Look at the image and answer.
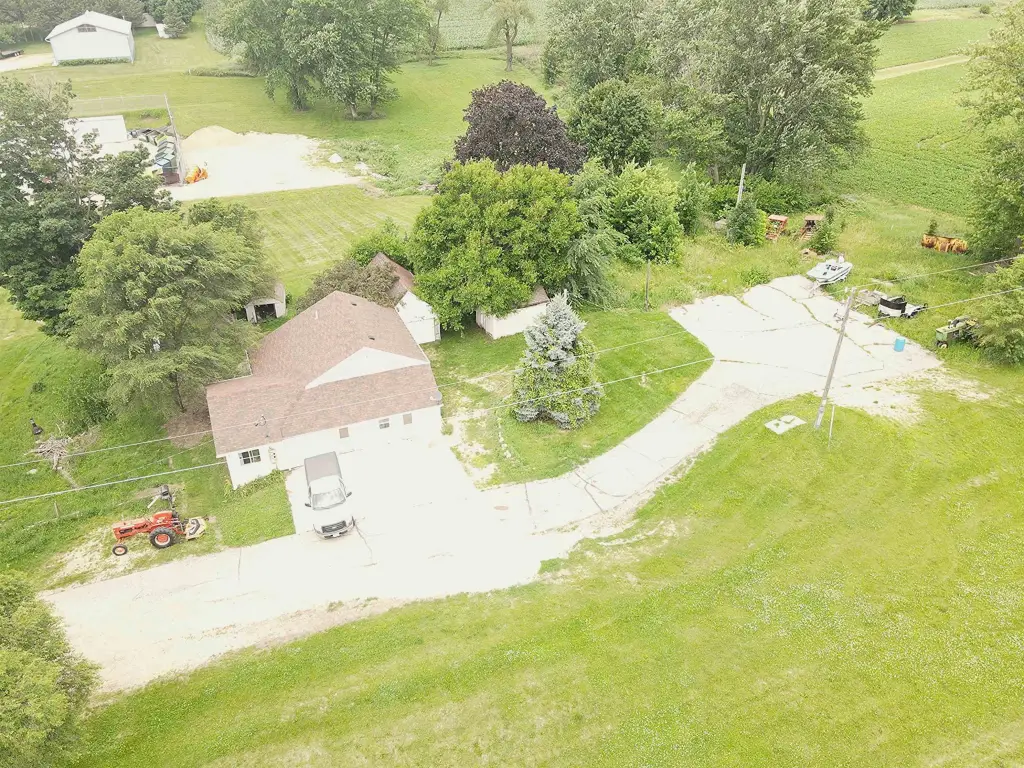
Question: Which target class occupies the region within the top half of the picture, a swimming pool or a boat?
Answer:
boat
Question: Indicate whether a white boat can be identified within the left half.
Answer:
No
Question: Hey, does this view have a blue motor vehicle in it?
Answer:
No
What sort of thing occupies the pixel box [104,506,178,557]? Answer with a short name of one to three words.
work vehicle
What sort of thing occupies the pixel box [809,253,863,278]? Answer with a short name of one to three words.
boat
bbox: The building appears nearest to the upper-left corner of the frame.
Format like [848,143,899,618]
[41,7,135,66]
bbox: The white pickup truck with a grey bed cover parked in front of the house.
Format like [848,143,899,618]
[297,449,354,539]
